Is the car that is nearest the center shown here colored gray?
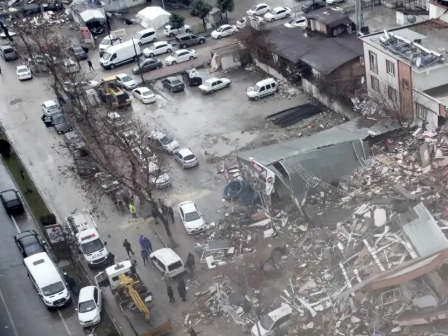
Yes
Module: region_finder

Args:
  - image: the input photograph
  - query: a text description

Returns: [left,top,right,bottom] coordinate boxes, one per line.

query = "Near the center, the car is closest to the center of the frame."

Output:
[173,148,198,171]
